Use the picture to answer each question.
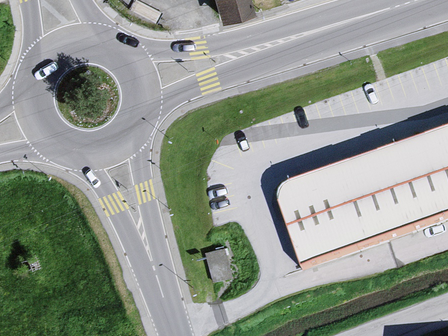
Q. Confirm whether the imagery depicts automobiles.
Yes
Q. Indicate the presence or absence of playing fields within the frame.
No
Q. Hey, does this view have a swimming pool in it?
No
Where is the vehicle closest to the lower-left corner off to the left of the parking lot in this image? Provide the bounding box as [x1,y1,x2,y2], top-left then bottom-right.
[84,166,101,188]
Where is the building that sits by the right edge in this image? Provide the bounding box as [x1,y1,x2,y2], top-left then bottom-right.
[276,119,448,274]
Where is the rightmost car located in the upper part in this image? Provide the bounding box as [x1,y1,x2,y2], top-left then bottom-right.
[365,83,379,105]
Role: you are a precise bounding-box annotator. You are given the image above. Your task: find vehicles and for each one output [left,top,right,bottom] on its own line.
[296,106,310,130]
[424,224,448,236]
[208,186,230,199]
[172,42,197,52]
[365,83,379,105]
[84,166,101,188]
[117,32,140,47]
[210,197,232,210]
[35,60,58,78]
[237,130,250,152]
